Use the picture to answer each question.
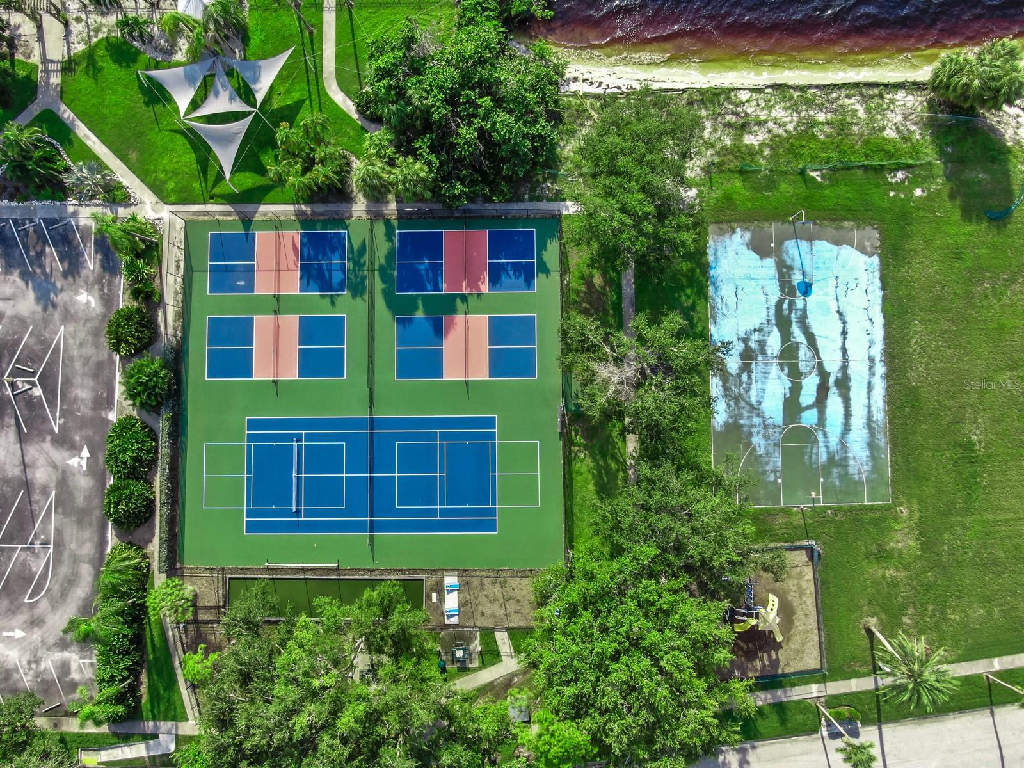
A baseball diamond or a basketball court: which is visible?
basketball court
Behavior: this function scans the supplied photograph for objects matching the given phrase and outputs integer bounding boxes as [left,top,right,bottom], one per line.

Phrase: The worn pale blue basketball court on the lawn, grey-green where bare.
[709,222,891,506]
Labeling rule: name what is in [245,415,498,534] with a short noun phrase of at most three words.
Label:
tennis court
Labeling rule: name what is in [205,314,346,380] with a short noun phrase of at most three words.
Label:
sports court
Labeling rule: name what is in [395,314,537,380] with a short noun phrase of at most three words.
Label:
sports court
